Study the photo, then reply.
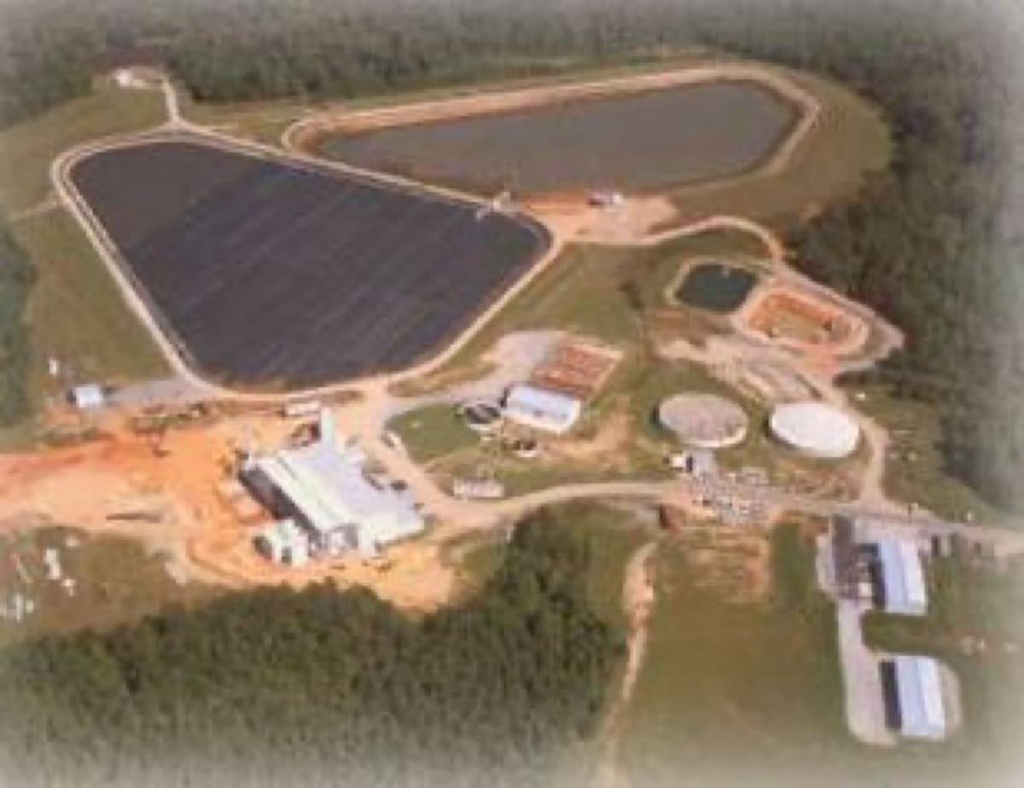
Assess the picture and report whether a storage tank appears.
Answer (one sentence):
Yes, there's a storage tank here.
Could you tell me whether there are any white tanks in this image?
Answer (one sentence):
Yes, the image includes a white tank.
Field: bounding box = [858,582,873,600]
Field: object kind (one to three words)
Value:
vehicle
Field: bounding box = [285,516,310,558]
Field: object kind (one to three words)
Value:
shed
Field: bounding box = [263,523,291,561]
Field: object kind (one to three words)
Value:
shed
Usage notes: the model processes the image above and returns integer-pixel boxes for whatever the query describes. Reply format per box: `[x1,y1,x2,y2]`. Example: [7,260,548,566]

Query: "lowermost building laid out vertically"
[895,653,945,744]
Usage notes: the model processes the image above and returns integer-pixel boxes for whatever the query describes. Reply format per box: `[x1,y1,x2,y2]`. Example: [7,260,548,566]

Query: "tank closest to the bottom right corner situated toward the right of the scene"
[769,400,862,459]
